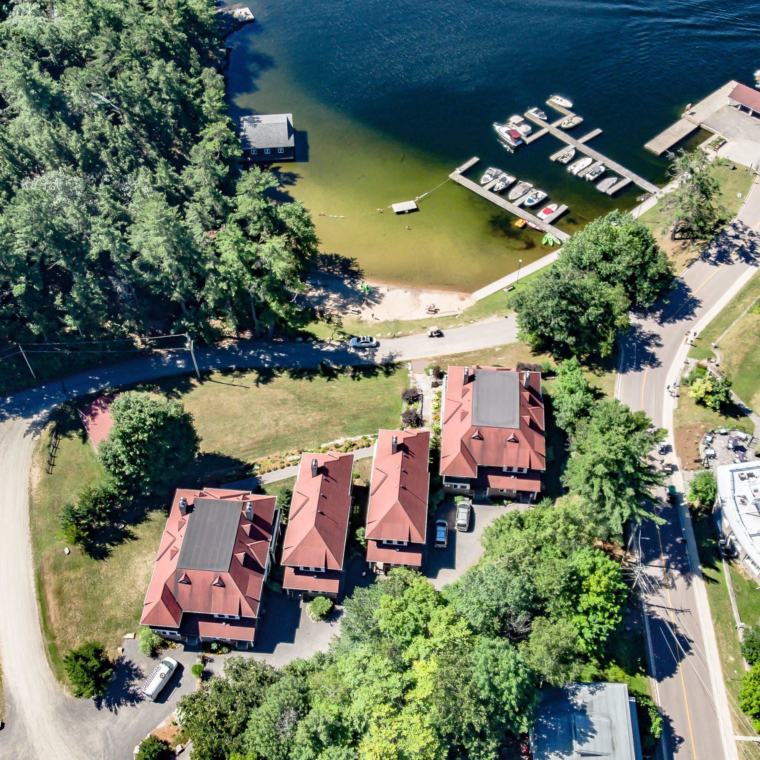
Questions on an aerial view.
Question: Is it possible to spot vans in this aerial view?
Yes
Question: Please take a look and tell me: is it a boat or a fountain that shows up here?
boat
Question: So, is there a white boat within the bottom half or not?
No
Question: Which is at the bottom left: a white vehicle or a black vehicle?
white vehicle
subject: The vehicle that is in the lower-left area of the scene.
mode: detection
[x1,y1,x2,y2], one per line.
[141,655,177,700]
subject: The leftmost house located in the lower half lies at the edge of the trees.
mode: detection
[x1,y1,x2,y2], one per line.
[139,483,286,655]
